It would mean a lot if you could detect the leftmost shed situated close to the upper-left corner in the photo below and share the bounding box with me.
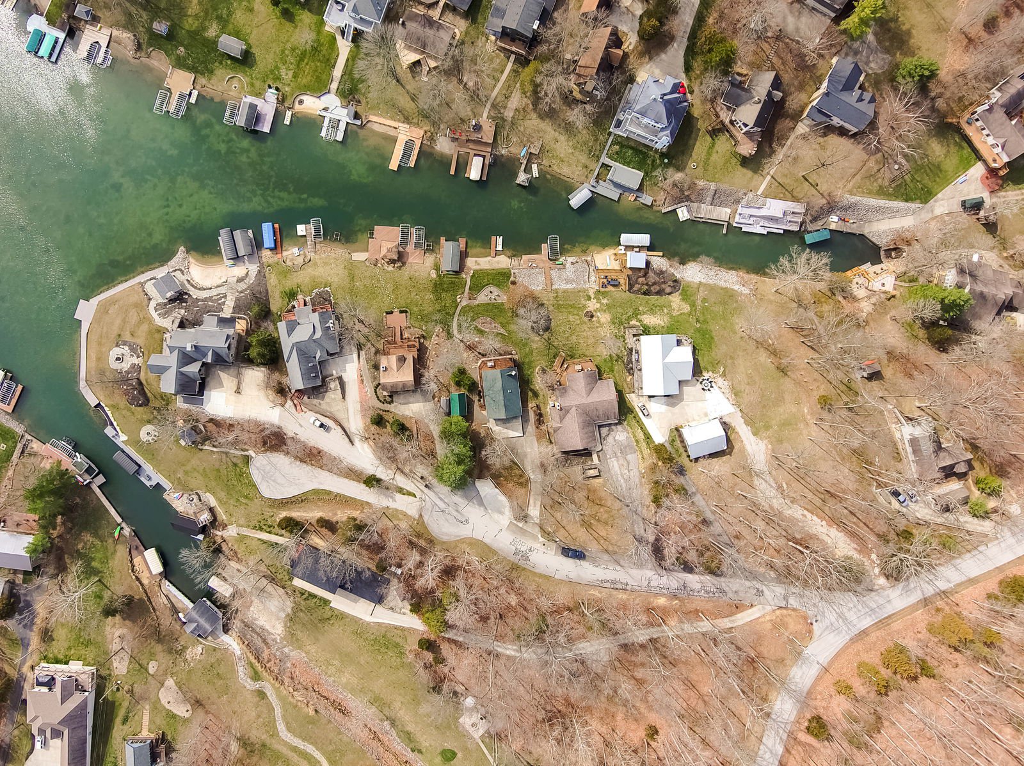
[73,3,97,24]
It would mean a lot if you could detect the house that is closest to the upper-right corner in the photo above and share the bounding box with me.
[942,75,1024,177]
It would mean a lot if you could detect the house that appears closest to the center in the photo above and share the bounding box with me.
[478,355,524,436]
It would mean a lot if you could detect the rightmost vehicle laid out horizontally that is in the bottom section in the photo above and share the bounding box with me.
[561,548,587,561]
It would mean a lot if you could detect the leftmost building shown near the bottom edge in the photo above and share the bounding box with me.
[26,658,103,766]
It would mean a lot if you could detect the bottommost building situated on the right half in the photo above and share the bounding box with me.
[927,486,970,511]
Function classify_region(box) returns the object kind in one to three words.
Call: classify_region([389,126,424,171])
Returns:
pier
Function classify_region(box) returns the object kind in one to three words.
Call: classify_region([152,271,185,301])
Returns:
building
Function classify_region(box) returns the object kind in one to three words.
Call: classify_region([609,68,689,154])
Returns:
house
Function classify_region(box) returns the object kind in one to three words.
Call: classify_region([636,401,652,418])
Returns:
car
